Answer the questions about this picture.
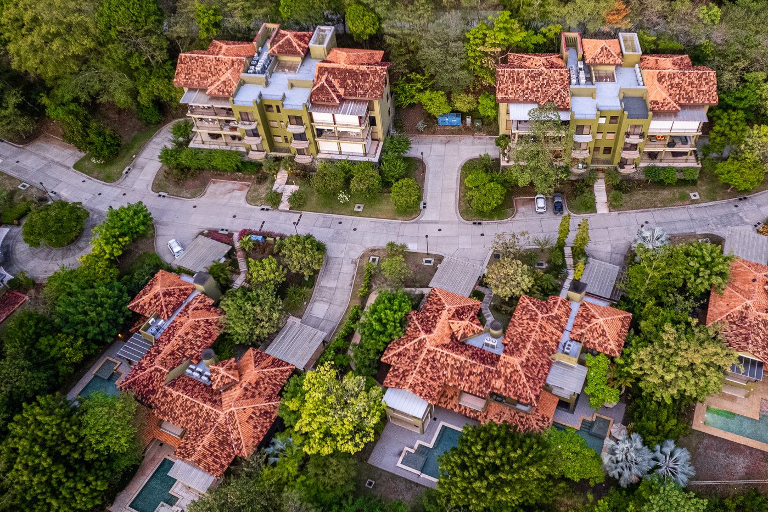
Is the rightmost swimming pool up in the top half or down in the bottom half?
bottom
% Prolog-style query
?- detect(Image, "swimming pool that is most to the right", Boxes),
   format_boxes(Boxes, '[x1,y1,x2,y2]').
[693,401,768,452]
